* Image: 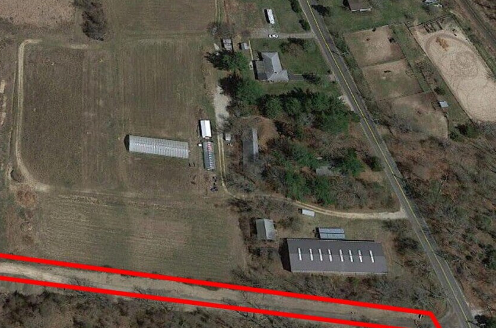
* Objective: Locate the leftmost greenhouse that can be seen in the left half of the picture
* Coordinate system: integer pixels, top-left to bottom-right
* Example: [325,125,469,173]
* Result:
[128,133,190,158]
